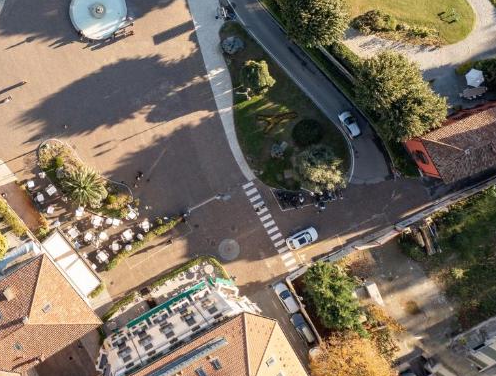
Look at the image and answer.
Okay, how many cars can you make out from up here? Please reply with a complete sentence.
There are 4 cars in the image.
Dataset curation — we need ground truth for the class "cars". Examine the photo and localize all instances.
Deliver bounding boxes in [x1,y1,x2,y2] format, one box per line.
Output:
[271,280,298,315]
[283,225,320,251]
[334,107,363,142]
[288,312,318,348]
